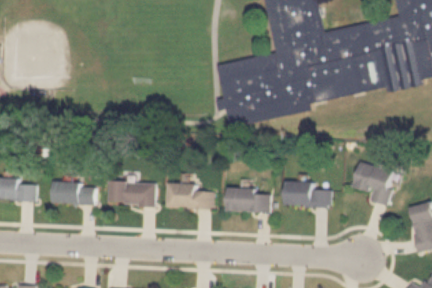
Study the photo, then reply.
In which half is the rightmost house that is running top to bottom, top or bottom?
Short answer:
bottom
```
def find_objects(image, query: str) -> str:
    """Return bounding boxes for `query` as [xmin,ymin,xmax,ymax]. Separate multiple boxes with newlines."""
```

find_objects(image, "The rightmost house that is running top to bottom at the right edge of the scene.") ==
[408,200,432,256]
